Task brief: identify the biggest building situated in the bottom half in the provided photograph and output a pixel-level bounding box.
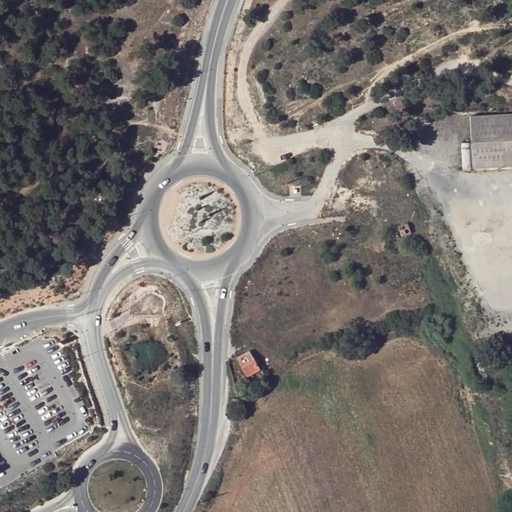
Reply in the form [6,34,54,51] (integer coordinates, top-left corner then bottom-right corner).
[238,351,260,378]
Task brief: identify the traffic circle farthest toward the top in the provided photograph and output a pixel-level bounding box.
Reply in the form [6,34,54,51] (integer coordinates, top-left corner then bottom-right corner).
[143,160,257,274]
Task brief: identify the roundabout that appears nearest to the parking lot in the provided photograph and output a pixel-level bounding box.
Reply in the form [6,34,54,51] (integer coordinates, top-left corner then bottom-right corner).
[72,443,162,512]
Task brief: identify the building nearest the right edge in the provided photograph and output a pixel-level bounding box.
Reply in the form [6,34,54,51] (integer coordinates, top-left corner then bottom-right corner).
[470,114,512,170]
